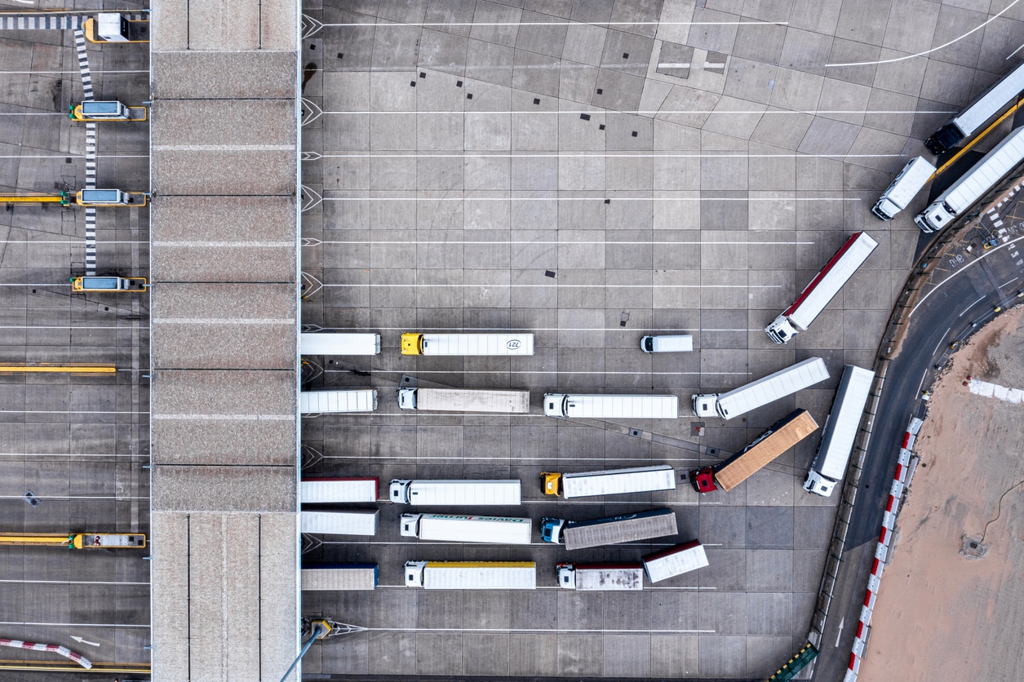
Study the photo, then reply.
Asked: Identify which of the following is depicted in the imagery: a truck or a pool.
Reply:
truck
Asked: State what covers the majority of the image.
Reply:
paved ground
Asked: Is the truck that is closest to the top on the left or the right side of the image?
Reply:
right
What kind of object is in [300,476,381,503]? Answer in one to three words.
truck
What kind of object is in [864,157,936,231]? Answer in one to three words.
truck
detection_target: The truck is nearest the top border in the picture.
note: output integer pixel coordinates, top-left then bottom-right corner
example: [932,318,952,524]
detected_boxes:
[921,61,1024,155]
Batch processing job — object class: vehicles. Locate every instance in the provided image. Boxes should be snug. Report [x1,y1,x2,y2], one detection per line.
[389,478,521,505]
[912,130,1024,232]
[300,476,381,503]
[300,506,379,535]
[921,61,1024,155]
[396,386,530,412]
[541,465,676,499]
[300,560,379,590]
[300,388,378,413]
[764,231,879,345]
[398,512,532,544]
[864,157,936,231]
[300,334,380,355]
[542,394,678,419]
[403,559,536,589]
[687,408,818,496]
[642,333,694,354]
[691,358,830,420]
[800,365,874,500]
[539,508,678,550]
[402,332,534,357]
